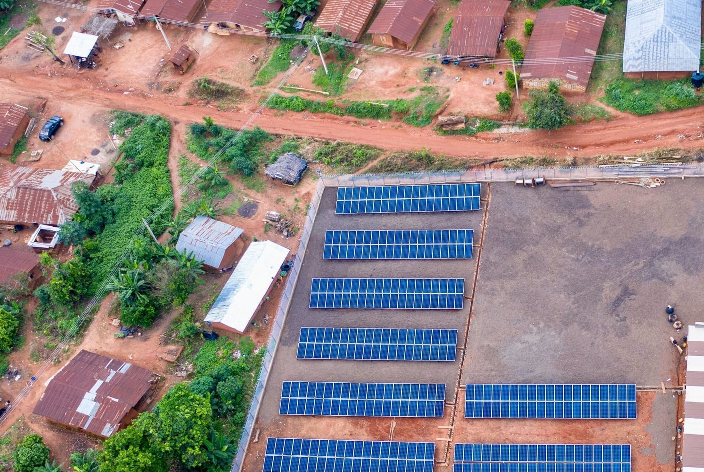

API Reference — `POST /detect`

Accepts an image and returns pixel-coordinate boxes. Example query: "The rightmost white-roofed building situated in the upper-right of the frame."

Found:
[623,0,699,86]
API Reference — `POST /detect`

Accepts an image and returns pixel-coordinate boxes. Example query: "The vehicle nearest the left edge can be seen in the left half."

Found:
[38,116,61,140]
